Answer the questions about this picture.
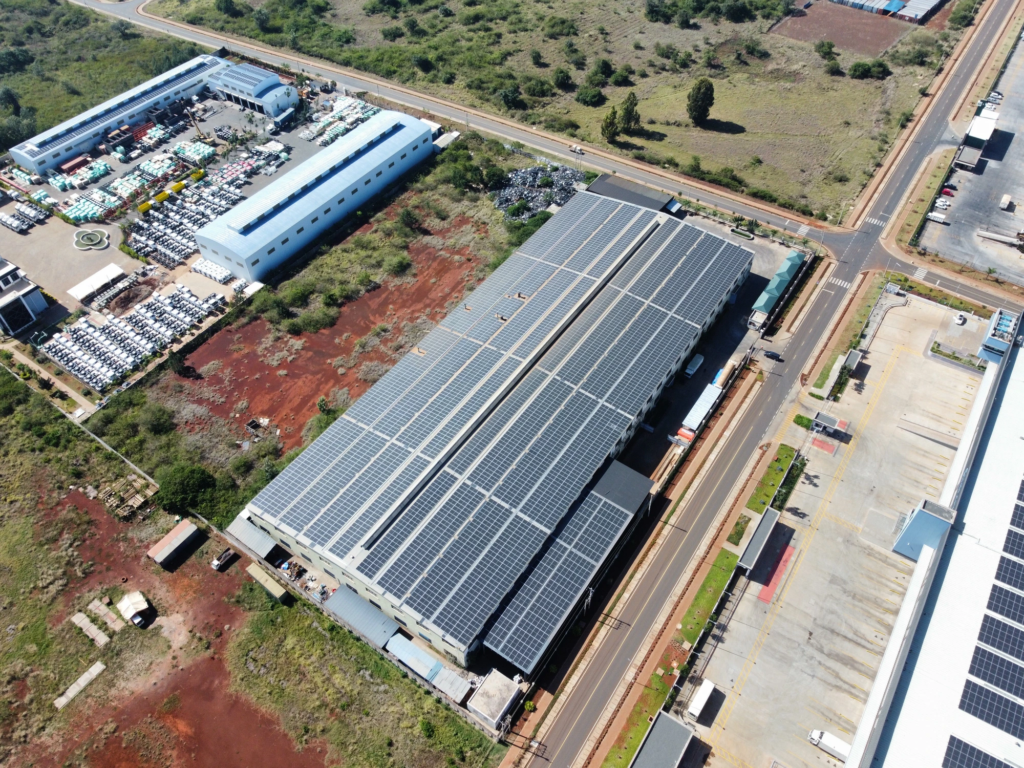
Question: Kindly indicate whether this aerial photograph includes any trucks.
Yes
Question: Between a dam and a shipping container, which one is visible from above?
shipping container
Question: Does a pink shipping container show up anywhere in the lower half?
No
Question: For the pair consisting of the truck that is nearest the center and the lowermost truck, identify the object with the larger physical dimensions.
the lowermost truck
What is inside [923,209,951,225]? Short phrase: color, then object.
white vehicle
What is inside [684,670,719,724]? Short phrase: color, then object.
white truck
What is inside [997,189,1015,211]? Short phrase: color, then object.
white vehicle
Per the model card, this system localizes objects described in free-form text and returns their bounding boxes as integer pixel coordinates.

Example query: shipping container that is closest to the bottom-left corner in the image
[246,563,288,604]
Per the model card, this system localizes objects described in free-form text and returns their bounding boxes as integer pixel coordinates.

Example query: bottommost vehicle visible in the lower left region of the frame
[125,609,147,631]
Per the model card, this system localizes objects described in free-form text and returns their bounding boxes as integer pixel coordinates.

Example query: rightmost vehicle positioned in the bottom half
[778,714,850,767]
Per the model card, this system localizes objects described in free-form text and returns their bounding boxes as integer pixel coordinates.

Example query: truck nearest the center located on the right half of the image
[682,349,709,378]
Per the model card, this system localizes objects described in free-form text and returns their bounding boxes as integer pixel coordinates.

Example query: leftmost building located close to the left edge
[0,254,50,344]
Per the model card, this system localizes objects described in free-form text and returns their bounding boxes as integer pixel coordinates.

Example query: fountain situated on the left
[72,226,108,249]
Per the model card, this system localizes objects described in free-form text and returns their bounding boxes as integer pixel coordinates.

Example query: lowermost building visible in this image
[633,711,693,768]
